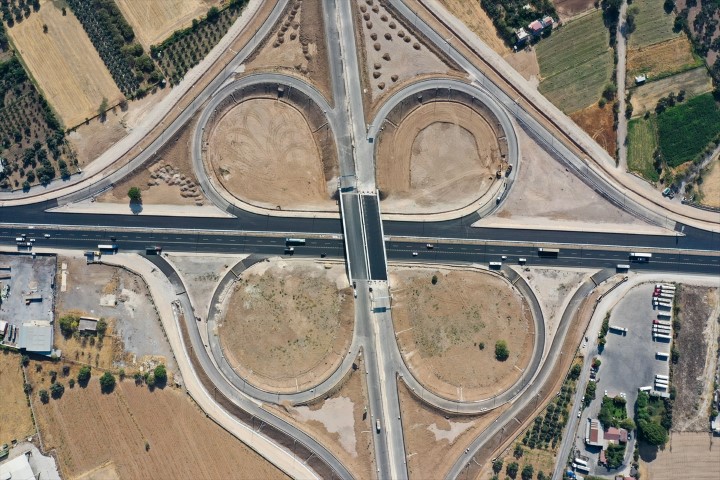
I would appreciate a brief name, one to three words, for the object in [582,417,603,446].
building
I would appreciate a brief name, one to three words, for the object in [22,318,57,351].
building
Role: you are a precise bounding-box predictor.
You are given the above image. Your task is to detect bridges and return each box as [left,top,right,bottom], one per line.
[340,188,388,288]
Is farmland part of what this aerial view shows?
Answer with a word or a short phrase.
Yes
